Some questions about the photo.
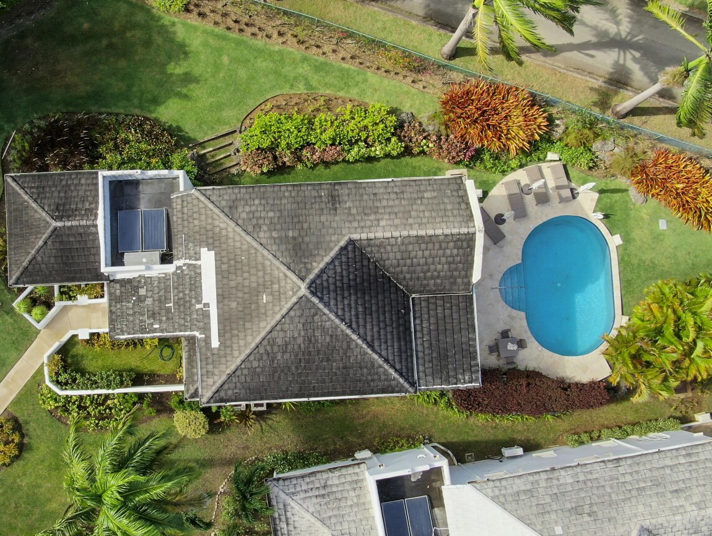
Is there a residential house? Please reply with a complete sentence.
Yes, the frame does contain a residential house.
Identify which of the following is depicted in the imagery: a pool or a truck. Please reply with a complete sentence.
Visible in the photo is a pool.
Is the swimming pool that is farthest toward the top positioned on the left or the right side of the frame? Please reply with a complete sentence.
You can find the swimming pool that is farthest toward the top on the right side of the picture.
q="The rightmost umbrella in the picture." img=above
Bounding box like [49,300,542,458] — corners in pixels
[569,186,597,199]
